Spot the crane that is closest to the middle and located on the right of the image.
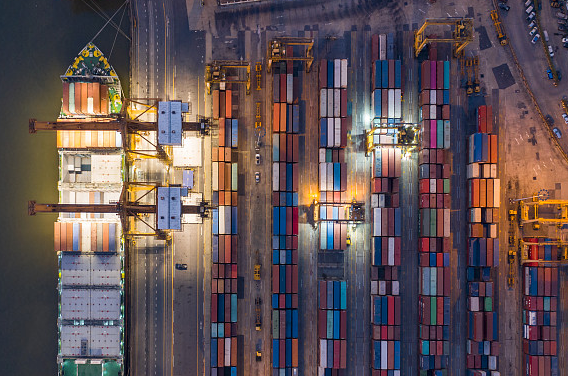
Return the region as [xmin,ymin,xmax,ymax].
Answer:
[314,196,370,231]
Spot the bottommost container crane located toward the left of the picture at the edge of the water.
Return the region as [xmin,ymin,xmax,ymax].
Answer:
[27,182,210,239]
